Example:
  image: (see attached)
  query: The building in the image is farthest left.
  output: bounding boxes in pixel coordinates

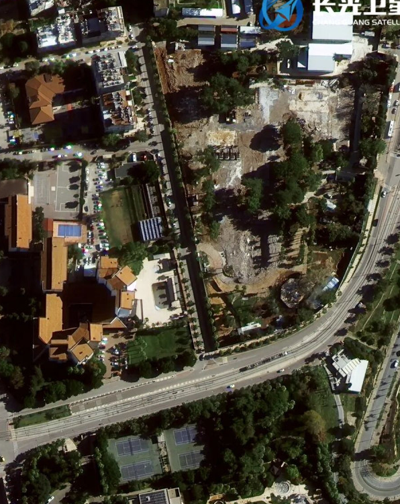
[0,180,34,254]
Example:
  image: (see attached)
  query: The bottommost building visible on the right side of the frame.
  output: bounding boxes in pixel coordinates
[332,349,367,394]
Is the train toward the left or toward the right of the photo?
right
